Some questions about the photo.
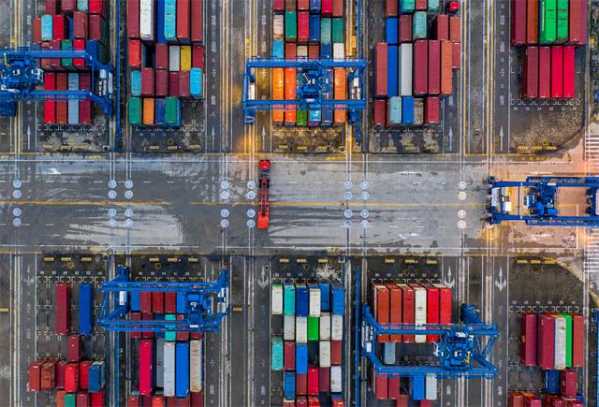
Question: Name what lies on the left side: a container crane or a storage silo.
container crane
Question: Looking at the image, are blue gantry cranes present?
Yes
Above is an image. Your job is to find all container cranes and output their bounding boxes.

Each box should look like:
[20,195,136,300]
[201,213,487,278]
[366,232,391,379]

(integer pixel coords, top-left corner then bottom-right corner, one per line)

[0,45,115,120]
[97,261,231,336]
[488,173,599,230]
[360,298,500,377]
[243,54,369,129]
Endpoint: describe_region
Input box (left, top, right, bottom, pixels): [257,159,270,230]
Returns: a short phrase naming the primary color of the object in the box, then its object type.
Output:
red vehicle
